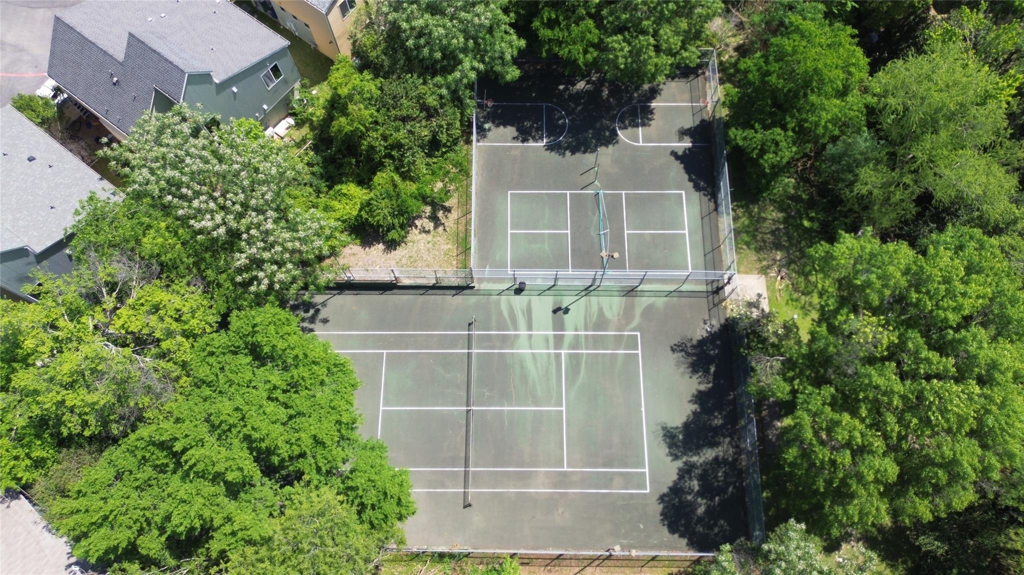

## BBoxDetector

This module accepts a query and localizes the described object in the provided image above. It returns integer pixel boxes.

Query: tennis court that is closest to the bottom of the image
[268,286,746,549]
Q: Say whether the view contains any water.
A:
No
